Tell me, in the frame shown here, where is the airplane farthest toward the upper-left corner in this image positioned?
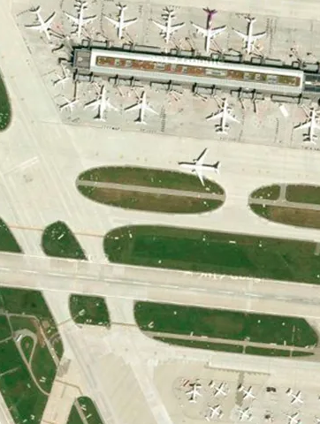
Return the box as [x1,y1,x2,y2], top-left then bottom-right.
[24,6,57,40]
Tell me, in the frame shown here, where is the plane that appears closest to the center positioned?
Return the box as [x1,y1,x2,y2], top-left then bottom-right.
[180,149,221,189]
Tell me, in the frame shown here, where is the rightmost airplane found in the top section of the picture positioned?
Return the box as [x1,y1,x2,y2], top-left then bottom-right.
[295,108,320,144]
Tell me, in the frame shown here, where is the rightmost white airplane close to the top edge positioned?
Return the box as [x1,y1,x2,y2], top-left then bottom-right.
[233,18,269,53]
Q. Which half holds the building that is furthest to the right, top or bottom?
top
